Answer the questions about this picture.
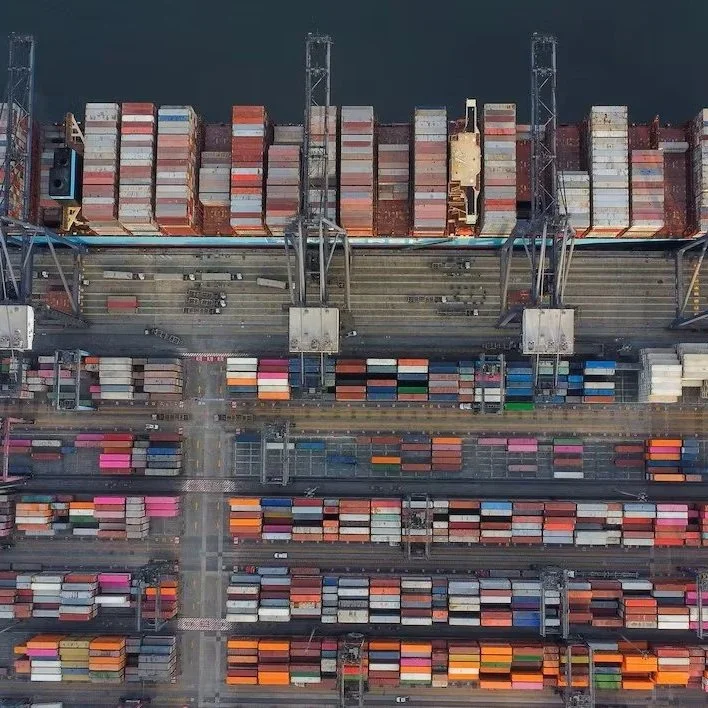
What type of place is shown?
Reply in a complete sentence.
The picture captures a port.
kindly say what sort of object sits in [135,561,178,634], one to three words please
container crane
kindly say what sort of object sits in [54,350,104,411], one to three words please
container crane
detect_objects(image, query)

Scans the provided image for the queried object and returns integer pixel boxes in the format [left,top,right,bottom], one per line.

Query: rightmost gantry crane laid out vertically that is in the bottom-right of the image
[673,560,708,642]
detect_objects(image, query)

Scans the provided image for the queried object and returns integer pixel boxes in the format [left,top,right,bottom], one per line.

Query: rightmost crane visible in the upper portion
[658,235,708,329]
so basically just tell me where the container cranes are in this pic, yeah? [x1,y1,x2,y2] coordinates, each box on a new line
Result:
[135,561,178,634]
[469,354,505,413]
[260,420,298,486]
[0,34,100,389]
[400,488,431,560]
[0,418,37,486]
[673,560,708,642]
[550,627,595,708]
[287,33,359,391]
[54,350,104,411]
[658,235,708,329]
[525,557,569,640]
[485,32,581,393]
[337,620,369,708]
